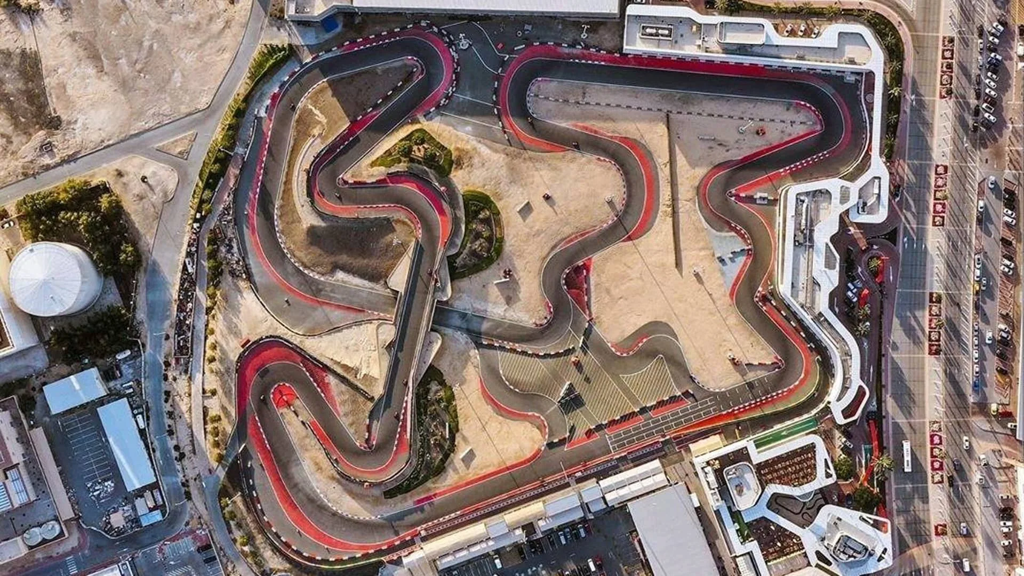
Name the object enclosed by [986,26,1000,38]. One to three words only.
vehicle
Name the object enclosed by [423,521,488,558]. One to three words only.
building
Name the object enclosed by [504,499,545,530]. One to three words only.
building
